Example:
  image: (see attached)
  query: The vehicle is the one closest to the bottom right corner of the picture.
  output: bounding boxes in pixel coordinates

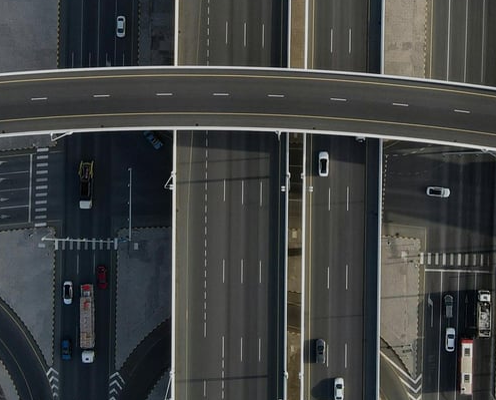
[459,338,475,399]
